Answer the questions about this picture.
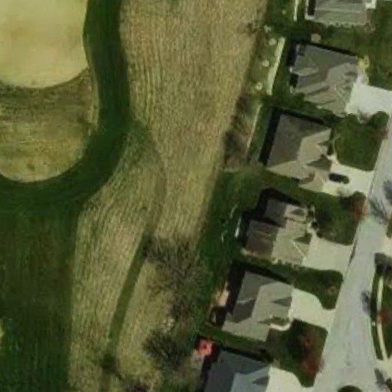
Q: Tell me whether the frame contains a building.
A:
Yes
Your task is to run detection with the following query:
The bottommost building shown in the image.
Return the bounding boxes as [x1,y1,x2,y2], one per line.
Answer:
[210,350,275,392]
